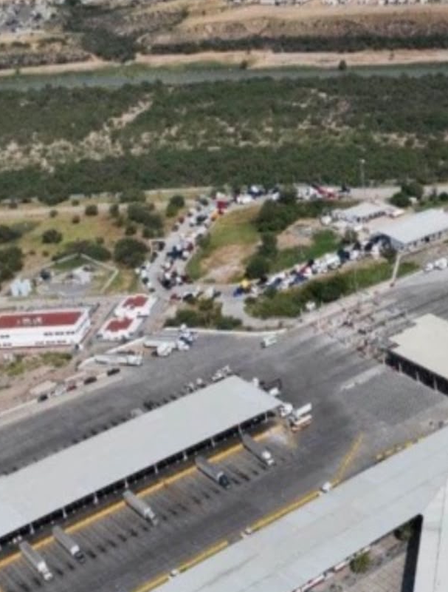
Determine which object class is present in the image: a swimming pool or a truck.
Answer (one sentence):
Of the two, only a truck appears.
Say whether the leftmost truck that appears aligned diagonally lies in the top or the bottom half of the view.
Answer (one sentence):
The leftmost truck that appears aligned diagonally sits in the bottom half of the picture.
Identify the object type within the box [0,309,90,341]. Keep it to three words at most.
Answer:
building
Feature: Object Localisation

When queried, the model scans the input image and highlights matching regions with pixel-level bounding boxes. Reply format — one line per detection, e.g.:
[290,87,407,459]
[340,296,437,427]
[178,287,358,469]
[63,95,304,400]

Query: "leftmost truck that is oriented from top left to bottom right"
[18,542,52,580]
